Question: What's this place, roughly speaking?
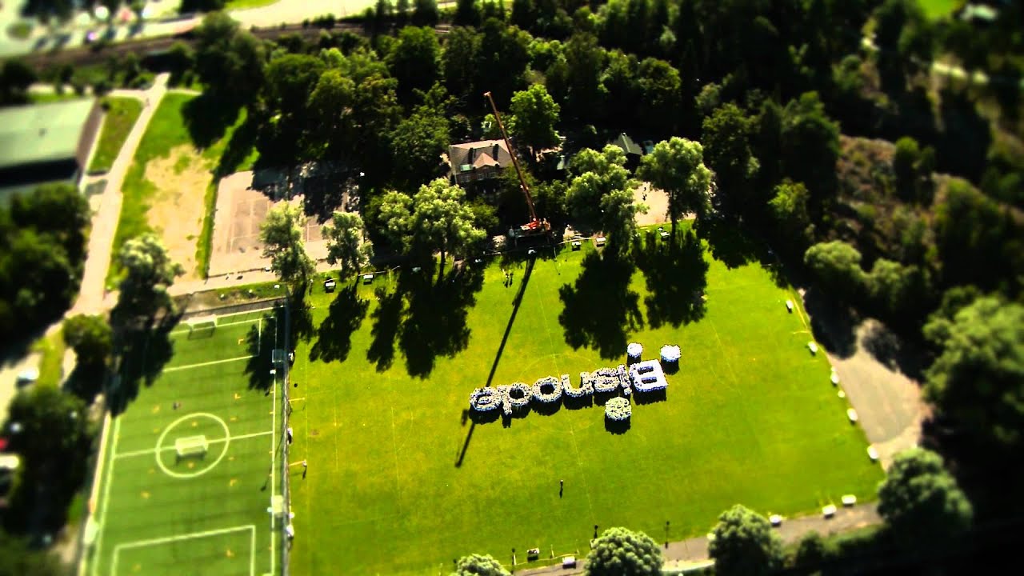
sports ground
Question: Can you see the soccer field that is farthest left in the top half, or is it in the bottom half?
bottom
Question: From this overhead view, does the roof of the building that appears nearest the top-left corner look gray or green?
green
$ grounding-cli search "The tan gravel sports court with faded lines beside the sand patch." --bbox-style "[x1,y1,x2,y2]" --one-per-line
[207,158,370,277]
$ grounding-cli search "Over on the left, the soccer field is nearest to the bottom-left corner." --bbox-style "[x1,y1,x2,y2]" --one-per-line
[80,305,283,576]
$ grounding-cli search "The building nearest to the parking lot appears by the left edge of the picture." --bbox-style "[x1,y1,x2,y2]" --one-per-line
[0,97,111,213]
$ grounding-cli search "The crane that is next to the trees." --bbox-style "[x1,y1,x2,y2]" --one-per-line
[479,90,560,247]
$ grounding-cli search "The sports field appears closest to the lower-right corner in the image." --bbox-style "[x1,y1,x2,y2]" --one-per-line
[284,237,879,576]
